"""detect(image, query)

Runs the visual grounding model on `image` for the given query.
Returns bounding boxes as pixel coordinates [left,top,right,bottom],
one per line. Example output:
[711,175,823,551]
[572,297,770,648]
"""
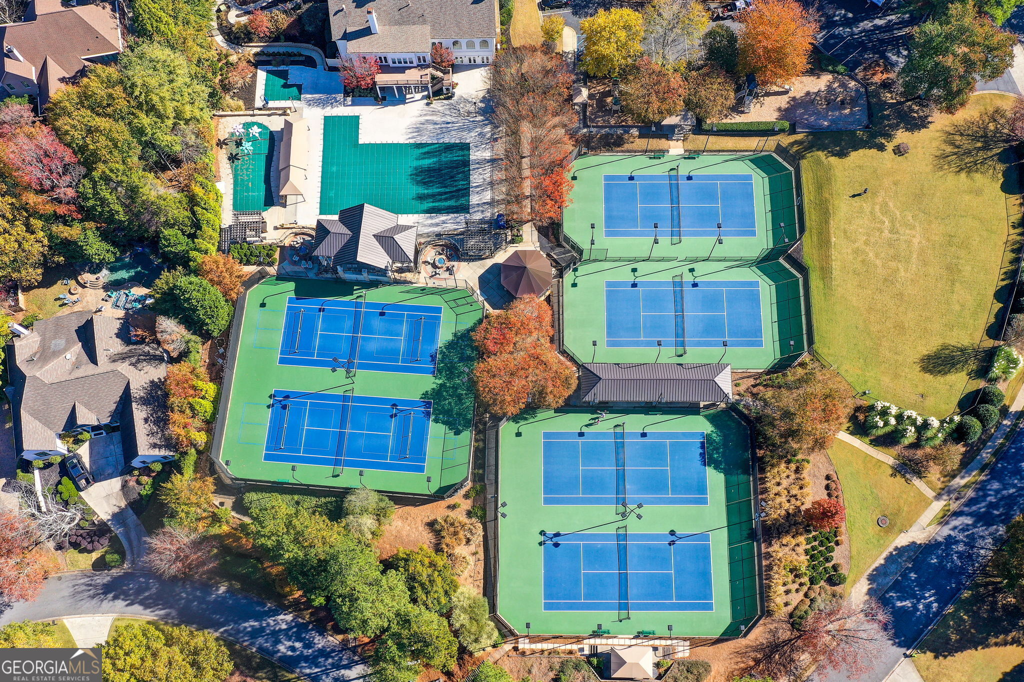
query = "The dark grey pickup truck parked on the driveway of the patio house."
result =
[65,452,96,488]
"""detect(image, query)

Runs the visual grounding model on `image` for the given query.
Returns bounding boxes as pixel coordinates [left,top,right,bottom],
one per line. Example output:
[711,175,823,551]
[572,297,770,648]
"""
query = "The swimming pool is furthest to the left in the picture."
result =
[105,251,161,291]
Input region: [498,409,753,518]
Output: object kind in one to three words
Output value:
tennis court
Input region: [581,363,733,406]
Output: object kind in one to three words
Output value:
building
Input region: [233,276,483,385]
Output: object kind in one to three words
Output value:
tennis court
